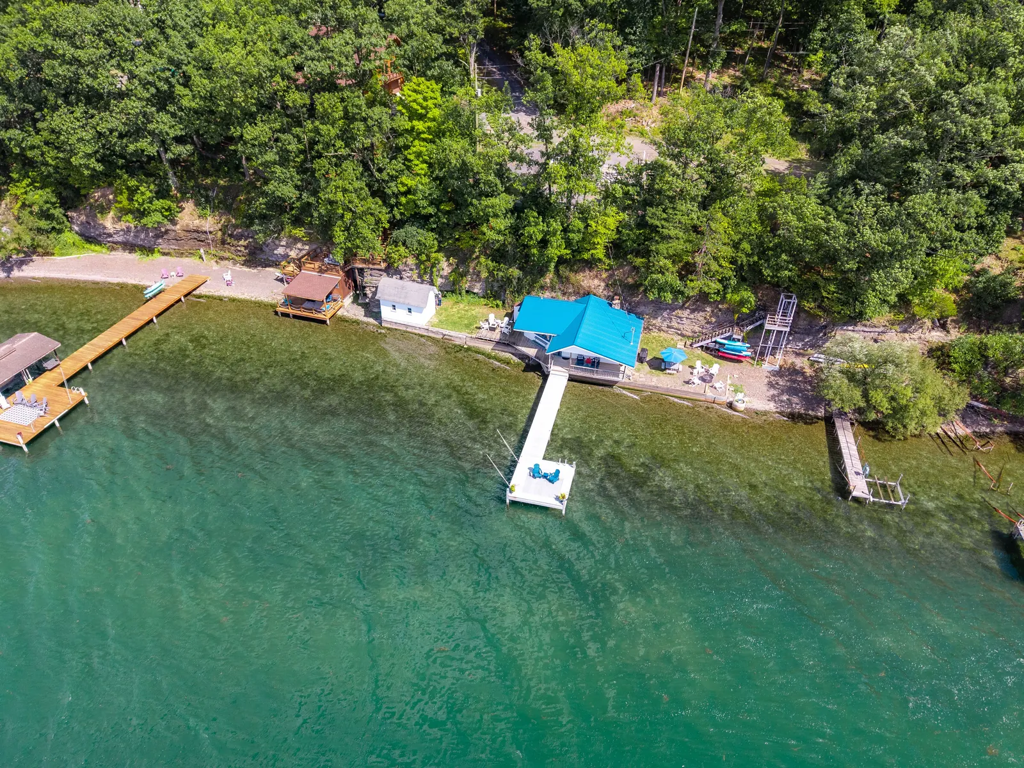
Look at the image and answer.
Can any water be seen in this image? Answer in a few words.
Yes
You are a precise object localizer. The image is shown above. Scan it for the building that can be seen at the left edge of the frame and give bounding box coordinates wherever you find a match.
[0,330,77,402]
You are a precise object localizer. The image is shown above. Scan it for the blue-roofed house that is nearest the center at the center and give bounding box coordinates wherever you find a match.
[511,290,647,390]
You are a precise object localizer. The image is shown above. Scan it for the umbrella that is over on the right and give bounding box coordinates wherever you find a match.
[660,341,691,360]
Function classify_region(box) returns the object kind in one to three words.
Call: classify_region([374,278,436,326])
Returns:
shed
